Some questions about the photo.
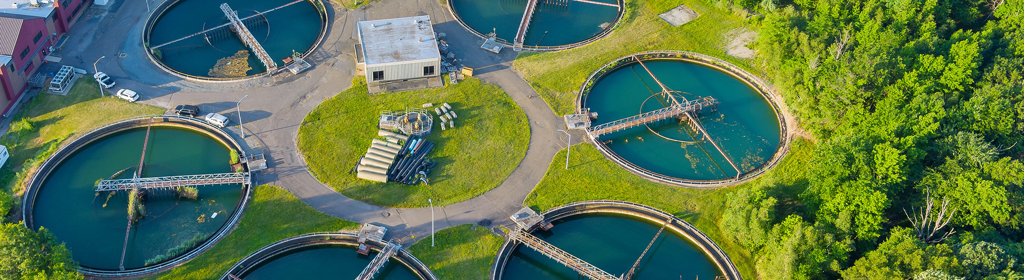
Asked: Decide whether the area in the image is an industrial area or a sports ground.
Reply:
industrial area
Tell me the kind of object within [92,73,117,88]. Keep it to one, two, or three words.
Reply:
vehicle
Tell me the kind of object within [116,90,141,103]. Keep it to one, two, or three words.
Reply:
vehicle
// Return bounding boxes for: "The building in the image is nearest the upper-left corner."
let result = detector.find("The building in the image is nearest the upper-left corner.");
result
[0,0,94,122]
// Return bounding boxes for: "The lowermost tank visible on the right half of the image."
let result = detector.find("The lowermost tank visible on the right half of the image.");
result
[493,198,742,280]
